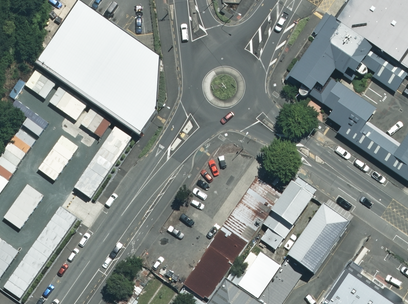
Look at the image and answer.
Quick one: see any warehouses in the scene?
Yes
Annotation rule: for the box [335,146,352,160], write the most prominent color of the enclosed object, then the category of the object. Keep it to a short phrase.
white vehicle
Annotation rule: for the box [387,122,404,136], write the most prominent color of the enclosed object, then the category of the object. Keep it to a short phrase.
white car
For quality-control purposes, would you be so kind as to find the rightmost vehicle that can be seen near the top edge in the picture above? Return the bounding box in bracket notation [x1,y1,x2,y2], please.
[274,13,289,32]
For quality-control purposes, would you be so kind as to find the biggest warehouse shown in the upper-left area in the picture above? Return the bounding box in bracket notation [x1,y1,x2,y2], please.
[38,0,159,136]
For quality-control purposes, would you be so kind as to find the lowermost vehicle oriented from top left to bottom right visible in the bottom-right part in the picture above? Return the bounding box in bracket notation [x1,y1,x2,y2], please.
[302,291,318,304]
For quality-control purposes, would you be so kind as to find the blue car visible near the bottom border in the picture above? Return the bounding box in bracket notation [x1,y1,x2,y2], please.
[42,284,56,300]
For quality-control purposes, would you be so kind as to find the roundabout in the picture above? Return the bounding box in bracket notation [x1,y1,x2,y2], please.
[202,66,246,110]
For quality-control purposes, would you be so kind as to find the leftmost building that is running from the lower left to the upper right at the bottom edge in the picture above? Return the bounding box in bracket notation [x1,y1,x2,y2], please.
[4,208,78,299]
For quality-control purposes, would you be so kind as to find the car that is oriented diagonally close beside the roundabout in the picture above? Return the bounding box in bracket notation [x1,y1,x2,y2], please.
[219,110,236,125]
